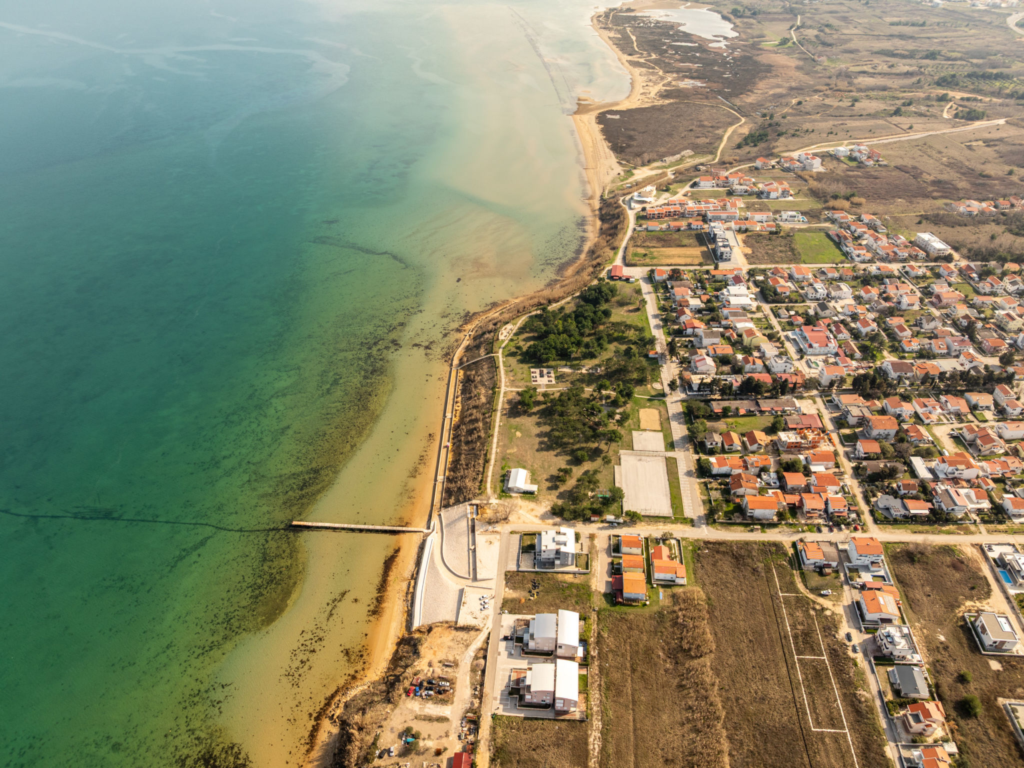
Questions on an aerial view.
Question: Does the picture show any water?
Yes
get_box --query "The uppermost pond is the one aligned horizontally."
[624,8,739,47]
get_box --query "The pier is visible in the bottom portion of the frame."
[291,520,428,533]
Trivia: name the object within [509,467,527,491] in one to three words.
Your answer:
building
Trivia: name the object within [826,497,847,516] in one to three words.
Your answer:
house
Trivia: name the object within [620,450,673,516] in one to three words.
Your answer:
sports court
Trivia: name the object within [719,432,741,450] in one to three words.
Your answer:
house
